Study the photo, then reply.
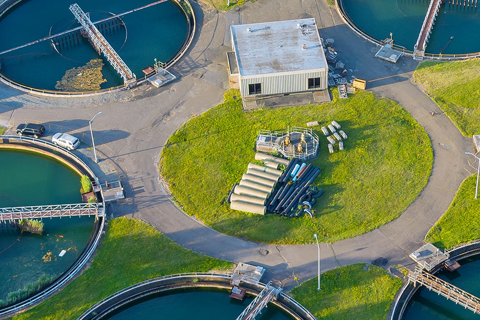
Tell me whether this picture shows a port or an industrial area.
industrial area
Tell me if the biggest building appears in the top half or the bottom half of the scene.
top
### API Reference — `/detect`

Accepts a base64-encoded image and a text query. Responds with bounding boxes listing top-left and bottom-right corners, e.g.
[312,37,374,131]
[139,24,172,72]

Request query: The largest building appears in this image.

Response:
[225,18,329,96]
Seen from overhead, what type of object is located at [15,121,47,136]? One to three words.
car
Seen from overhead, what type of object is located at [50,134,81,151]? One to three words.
car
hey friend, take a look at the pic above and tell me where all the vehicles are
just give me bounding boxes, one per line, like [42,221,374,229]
[50,134,81,151]
[15,121,47,136]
